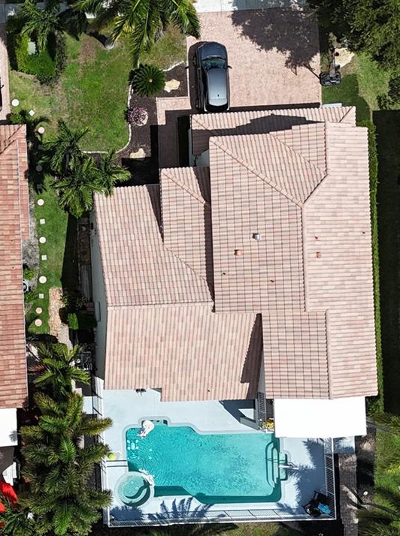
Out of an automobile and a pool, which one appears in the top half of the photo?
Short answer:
automobile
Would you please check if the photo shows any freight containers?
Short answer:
No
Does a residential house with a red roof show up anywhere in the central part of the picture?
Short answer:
No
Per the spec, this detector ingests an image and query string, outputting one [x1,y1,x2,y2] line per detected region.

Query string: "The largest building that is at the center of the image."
[90,104,379,402]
